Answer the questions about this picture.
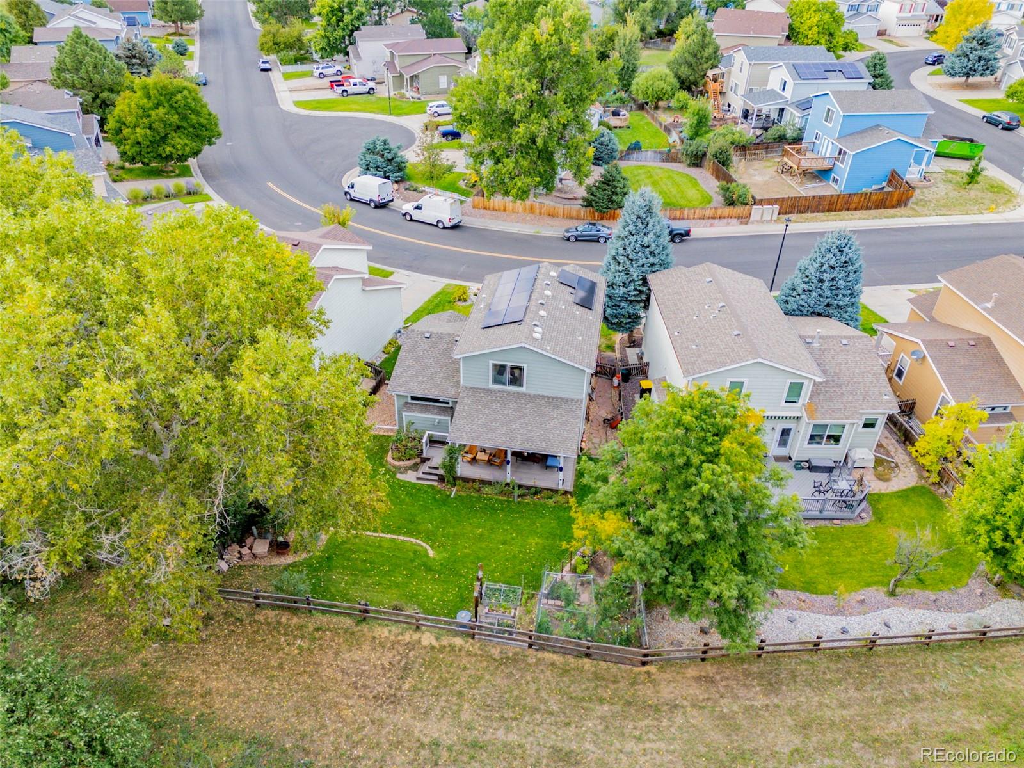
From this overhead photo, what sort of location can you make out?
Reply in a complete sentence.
It's a residential area.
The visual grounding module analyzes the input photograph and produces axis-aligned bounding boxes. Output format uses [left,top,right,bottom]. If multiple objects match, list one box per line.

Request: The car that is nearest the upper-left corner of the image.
[190,70,206,84]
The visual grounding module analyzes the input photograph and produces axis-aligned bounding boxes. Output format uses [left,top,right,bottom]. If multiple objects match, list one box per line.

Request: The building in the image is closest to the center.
[386,260,605,498]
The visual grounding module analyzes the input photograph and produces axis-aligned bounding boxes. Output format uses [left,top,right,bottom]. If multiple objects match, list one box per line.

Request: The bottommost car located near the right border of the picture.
[985,111,1019,129]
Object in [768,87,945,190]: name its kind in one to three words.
house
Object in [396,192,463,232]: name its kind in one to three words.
van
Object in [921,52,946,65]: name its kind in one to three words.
vehicle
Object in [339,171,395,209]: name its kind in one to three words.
van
